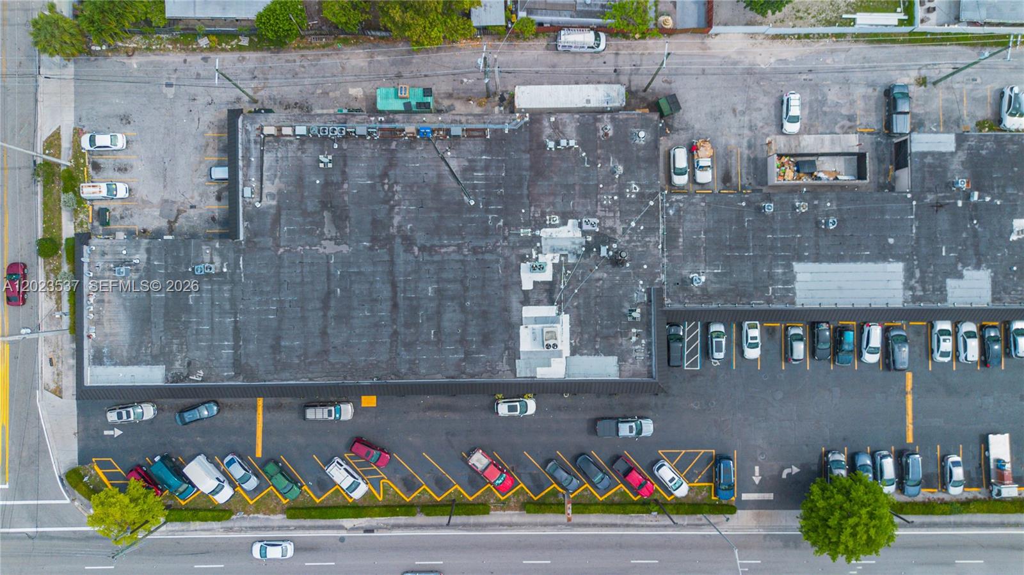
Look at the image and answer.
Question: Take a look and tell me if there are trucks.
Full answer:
Yes, I can see a truck in this picture.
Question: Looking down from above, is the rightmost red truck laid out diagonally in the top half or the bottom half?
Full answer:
The rightmost red truck laid out diagonally sits in the bottom half of the picture.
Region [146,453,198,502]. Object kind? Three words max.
van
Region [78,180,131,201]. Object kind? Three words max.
vehicle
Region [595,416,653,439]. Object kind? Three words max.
truck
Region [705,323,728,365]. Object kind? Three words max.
car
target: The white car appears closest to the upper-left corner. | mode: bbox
[82,131,129,152]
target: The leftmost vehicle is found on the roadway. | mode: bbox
[3,263,30,305]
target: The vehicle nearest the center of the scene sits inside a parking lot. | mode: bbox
[495,396,537,418]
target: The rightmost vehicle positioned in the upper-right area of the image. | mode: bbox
[998,85,1024,132]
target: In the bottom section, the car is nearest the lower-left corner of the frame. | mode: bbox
[124,461,168,502]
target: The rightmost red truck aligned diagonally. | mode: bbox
[608,452,656,500]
